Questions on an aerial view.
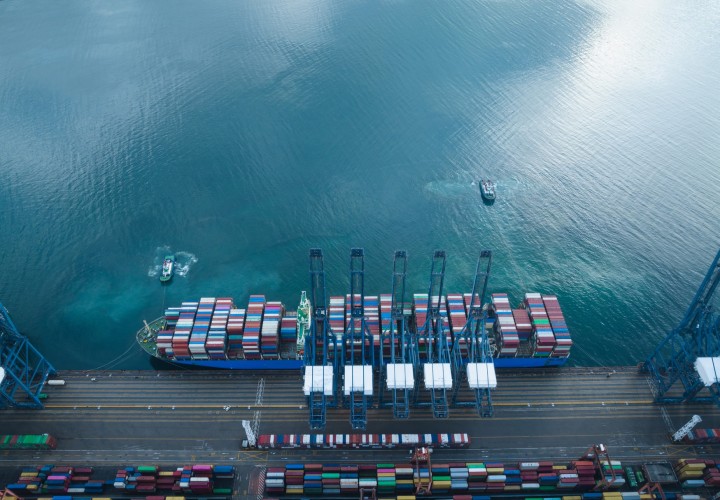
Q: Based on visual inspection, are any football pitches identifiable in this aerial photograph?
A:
No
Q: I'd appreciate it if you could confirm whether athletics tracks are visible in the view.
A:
No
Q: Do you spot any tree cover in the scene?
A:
No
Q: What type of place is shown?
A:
port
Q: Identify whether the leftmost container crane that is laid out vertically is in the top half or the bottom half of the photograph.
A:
bottom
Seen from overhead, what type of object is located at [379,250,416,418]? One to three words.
container crane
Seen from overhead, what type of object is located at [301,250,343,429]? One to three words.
container crane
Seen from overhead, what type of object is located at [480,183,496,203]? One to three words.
boat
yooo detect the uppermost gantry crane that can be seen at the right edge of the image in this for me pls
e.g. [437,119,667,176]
[643,252,720,409]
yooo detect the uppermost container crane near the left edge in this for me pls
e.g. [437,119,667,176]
[0,282,61,407]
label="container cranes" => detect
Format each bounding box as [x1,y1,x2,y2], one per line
[340,250,378,429]
[379,250,416,418]
[410,448,432,500]
[643,252,720,409]
[631,481,669,500]
[301,250,343,429]
[453,248,500,418]
[413,249,455,418]
[0,282,61,407]
[581,444,622,493]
